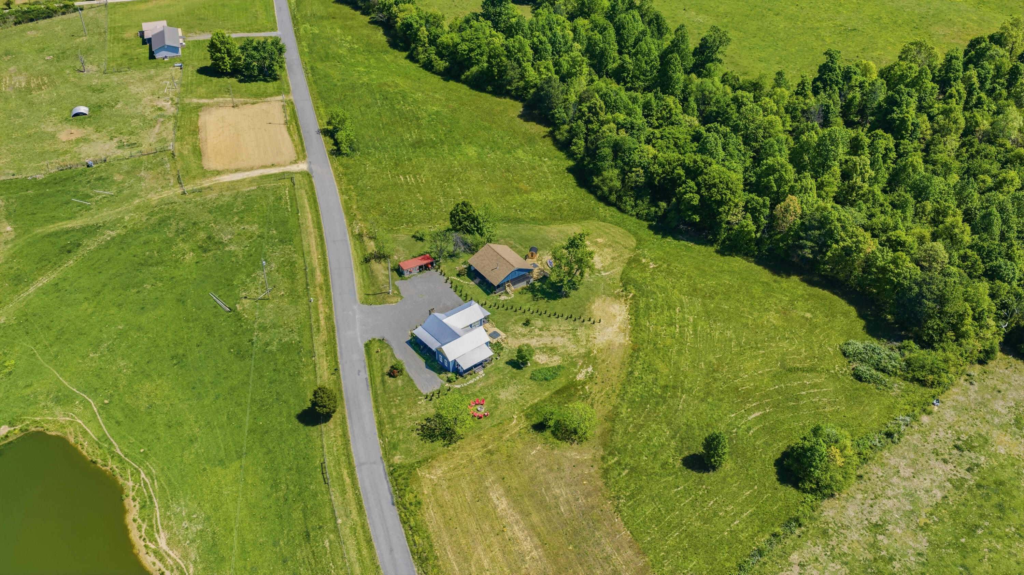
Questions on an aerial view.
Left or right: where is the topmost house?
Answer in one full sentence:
You can find the topmost house on the left side of the picture.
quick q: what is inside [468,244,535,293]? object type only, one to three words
house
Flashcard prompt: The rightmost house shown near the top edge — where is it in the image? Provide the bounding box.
[140,20,186,59]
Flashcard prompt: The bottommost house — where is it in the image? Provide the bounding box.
[414,300,512,375]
